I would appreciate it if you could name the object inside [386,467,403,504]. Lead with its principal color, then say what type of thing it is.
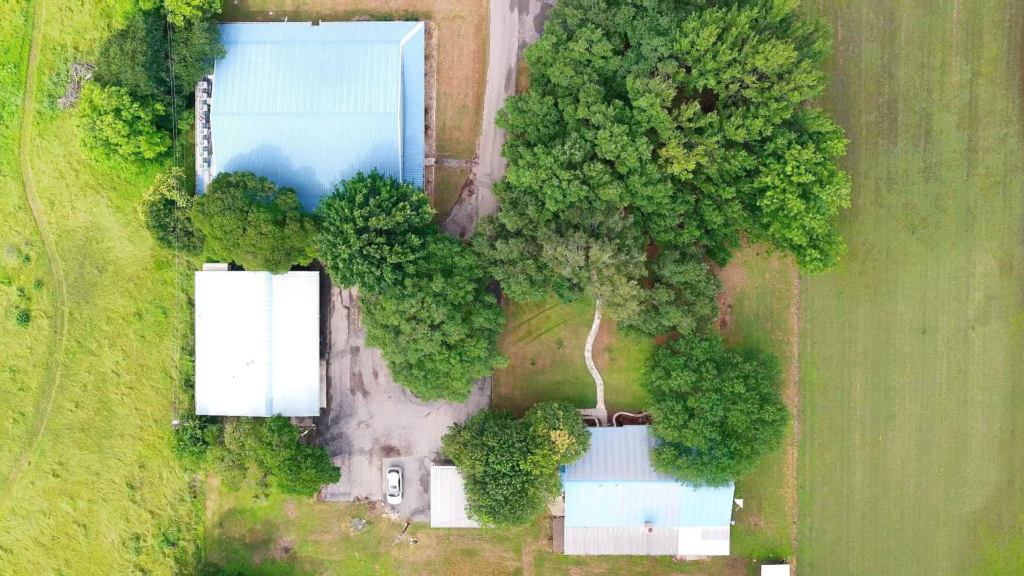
white car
